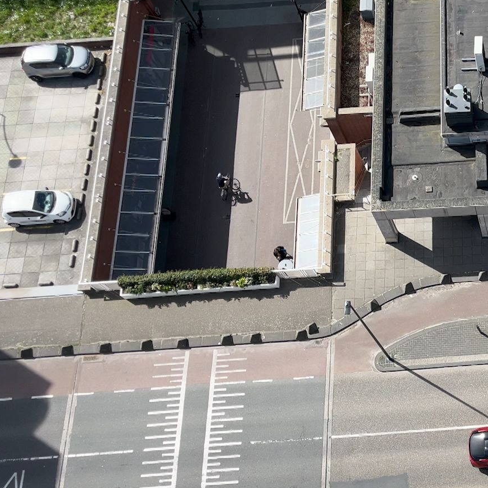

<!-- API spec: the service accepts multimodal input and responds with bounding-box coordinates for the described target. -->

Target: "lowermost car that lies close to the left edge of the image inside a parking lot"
[3,187,78,231]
